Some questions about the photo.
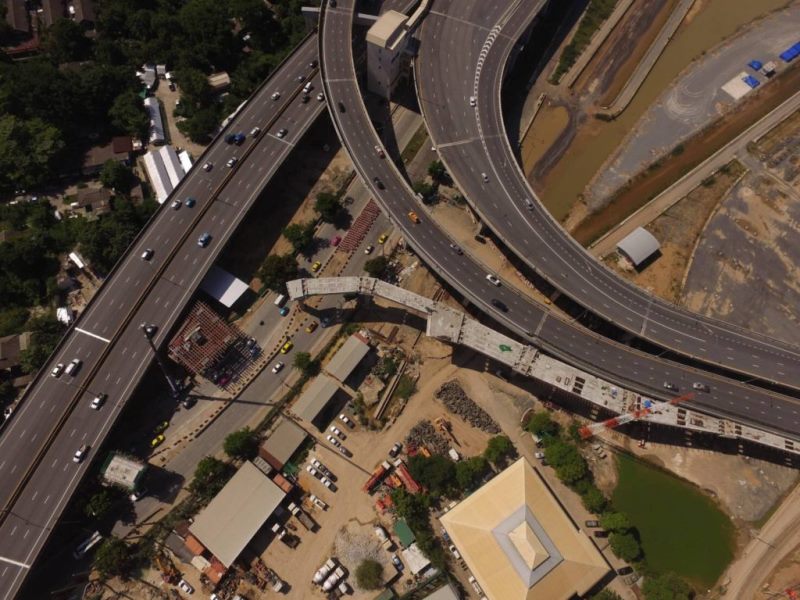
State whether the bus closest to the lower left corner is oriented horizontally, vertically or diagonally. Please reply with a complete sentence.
The bus closest to the lower left corner is laid out diagonally.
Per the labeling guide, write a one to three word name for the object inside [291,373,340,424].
shed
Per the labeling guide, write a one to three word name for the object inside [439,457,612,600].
building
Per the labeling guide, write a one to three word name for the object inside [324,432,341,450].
vehicle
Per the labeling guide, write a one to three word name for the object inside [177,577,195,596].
car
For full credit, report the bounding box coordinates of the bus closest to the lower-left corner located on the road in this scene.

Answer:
[62,524,106,565]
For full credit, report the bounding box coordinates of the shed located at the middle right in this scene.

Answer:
[612,227,660,271]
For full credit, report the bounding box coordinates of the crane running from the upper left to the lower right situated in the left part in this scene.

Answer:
[140,325,198,412]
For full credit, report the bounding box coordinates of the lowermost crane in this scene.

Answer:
[550,391,696,441]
